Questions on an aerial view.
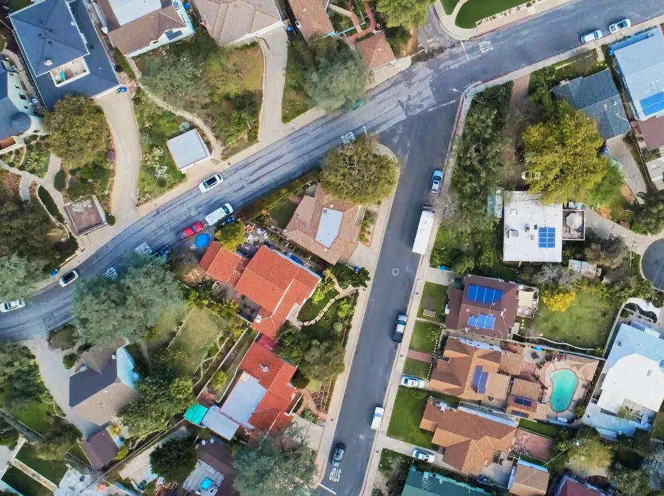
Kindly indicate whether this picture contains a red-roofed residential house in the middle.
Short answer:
Yes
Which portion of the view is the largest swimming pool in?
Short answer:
bottom right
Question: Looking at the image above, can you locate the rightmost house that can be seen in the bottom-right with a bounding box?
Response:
[593,318,664,414]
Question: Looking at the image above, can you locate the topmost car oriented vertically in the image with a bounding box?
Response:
[430,169,444,195]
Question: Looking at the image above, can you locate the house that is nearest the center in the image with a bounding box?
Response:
[283,182,362,264]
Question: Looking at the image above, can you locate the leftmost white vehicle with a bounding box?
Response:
[1,297,27,313]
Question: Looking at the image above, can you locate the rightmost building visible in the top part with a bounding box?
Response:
[607,27,664,151]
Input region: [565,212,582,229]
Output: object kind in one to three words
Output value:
umbrella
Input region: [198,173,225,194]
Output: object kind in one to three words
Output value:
car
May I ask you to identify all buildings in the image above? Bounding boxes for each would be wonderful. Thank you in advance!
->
[195,0,284,46]
[199,241,323,337]
[420,395,518,475]
[402,465,492,496]
[593,318,664,414]
[549,470,610,496]
[354,32,396,70]
[202,341,299,445]
[69,336,140,425]
[445,274,518,339]
[0,55,51,157]
[510,462,550,496]
[431,335,522,401]
[569,259,596,277]
[289,0,340,43]
[553,69,630,139]
[283,182,362,264]
[64,196,112,235]
[506,378,550,420]
[168,129,214,170]
[98,0,197,57]
[80,426,121,470]
[502,191,562,262]
[10,0,126,116]
[607,27,664,151]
